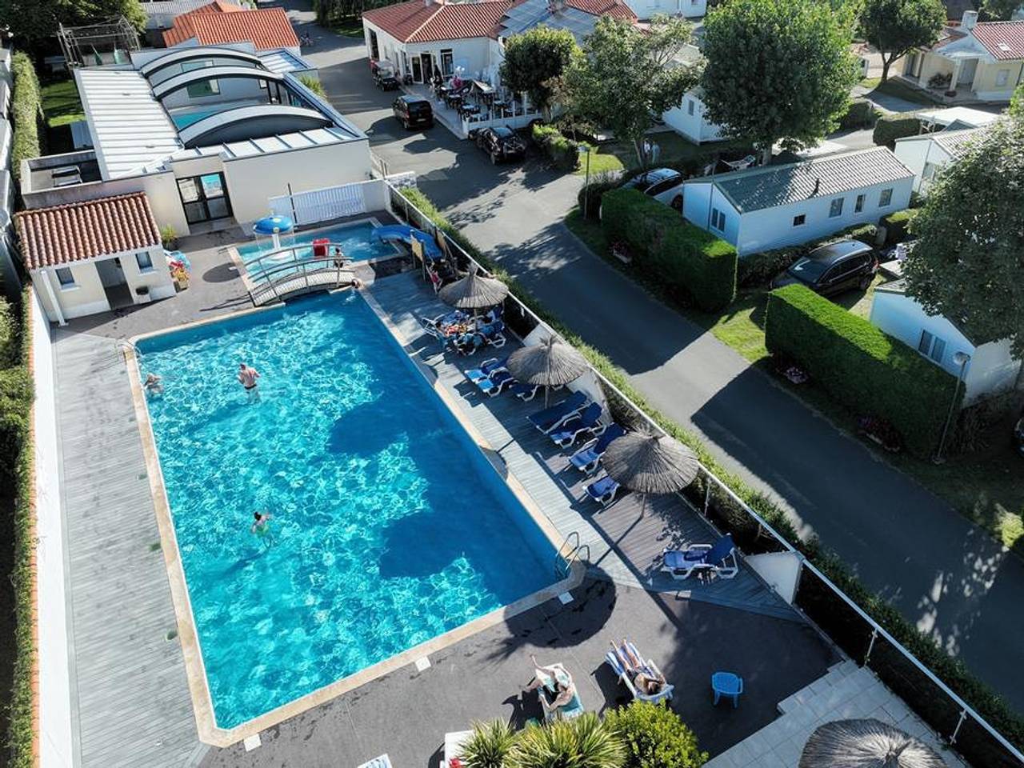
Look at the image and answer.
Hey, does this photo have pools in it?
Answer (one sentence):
Yes, you can see a pool in this photo.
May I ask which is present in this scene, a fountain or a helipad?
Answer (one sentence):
This aerial view contains a fountain.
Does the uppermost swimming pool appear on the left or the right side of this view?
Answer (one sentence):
The uppermost swimming pool is on the left side of the image.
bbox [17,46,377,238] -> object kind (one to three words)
building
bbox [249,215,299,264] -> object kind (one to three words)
fountain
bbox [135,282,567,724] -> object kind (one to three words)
swimming pool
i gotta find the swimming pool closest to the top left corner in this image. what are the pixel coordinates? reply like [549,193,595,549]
[163,101,245,143]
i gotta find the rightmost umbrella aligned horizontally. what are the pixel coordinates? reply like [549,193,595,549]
[795,704,954,768]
